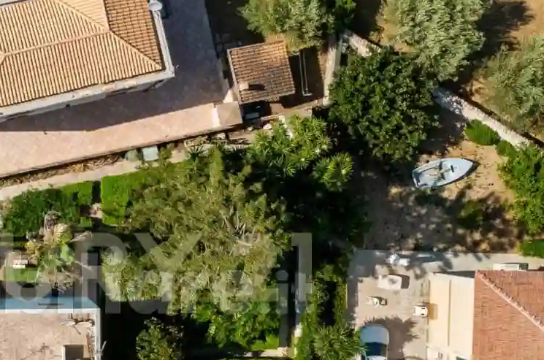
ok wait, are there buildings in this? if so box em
[0,0,177,129]
[424,269,544,360]
[220,38,295,104]
[0,297,102,360]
